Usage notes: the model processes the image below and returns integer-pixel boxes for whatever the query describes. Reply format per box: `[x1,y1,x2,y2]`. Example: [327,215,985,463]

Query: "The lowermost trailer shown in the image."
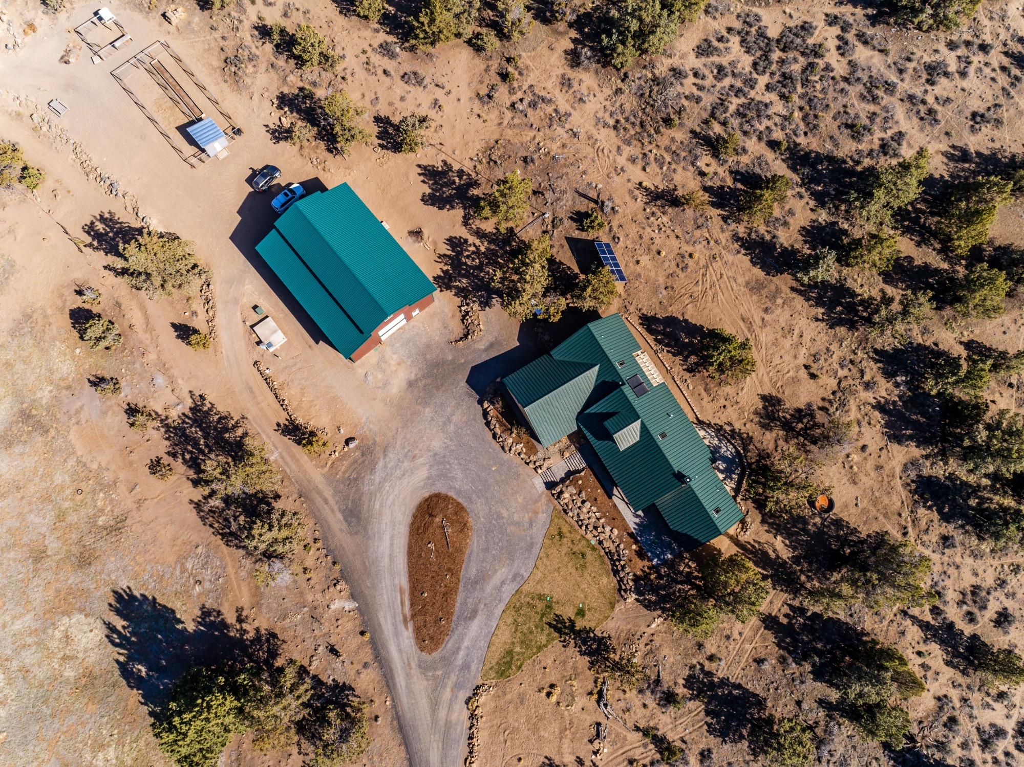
[252,316,289,355]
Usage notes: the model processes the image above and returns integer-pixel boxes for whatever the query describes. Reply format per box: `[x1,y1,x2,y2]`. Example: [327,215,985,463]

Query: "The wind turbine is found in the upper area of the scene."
[525,159,571,236]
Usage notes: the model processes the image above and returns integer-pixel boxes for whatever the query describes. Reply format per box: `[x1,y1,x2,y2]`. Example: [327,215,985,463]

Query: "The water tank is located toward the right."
[810,493,836,525]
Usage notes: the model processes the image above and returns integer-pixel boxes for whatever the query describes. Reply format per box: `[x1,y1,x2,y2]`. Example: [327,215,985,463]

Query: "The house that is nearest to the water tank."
[503,313,744,552]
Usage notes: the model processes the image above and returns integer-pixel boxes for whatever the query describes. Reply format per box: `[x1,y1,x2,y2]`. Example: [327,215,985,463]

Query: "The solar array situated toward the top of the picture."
[595,242,627,282]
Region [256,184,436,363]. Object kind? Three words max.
barn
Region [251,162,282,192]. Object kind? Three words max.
car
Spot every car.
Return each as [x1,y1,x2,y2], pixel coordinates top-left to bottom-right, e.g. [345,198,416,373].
[271,181,306,212]
[251,162,282,192]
